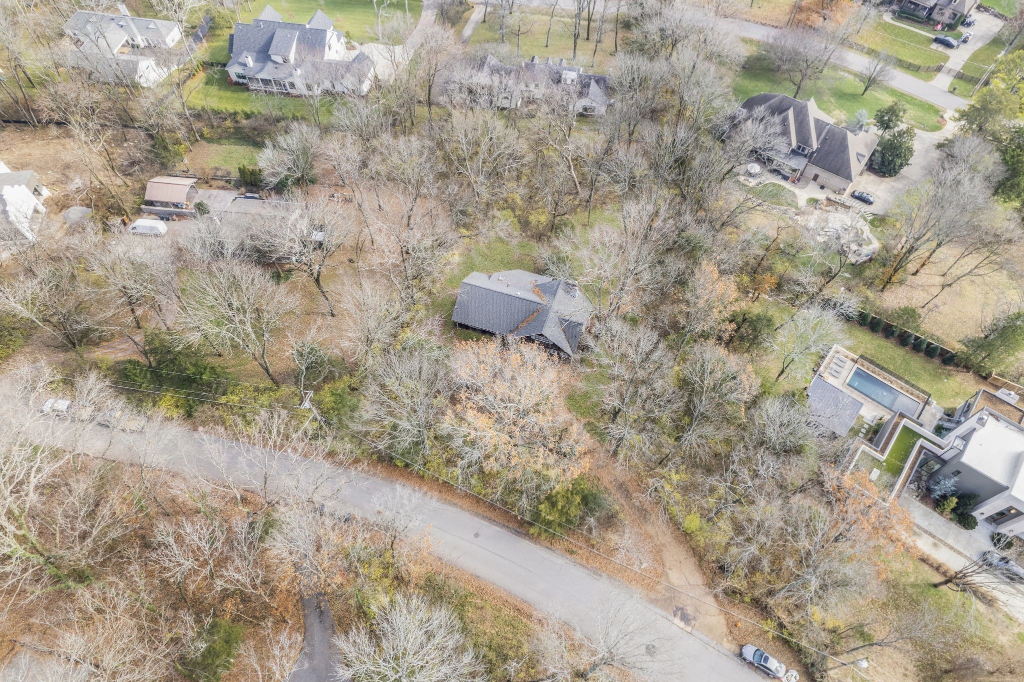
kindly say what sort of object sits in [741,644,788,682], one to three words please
car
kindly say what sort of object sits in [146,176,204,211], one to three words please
building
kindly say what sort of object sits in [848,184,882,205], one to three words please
car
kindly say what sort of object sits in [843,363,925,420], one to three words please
swimming pool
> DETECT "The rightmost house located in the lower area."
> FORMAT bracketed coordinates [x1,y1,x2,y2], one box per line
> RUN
[922,383,1024,543]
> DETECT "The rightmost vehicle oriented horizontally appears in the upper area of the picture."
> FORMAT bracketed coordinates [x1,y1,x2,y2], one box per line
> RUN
[932,30,964,47]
